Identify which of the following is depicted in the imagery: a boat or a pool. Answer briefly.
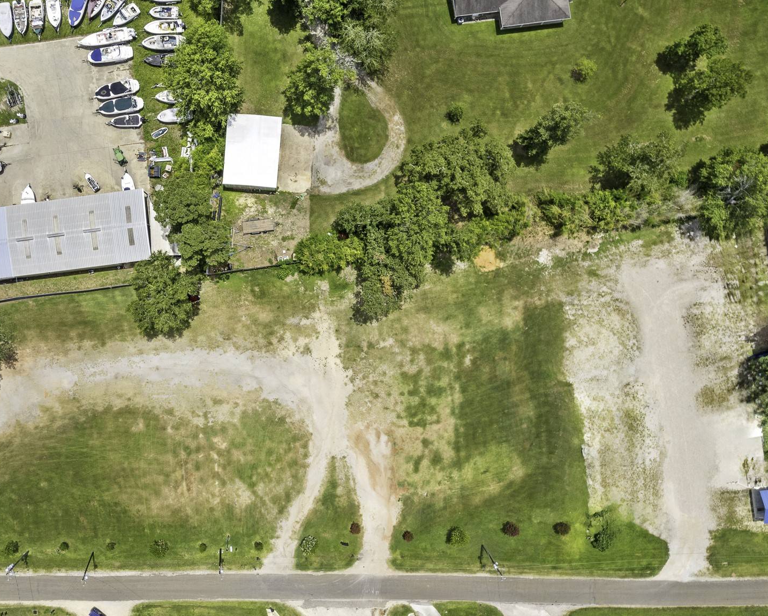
boat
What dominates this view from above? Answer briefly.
grass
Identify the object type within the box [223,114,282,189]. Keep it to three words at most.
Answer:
building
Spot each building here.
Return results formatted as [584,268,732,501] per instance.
[223,114,282,189]
[0,189,153,280]
[452,0,573,31]
[754,487,768,524]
